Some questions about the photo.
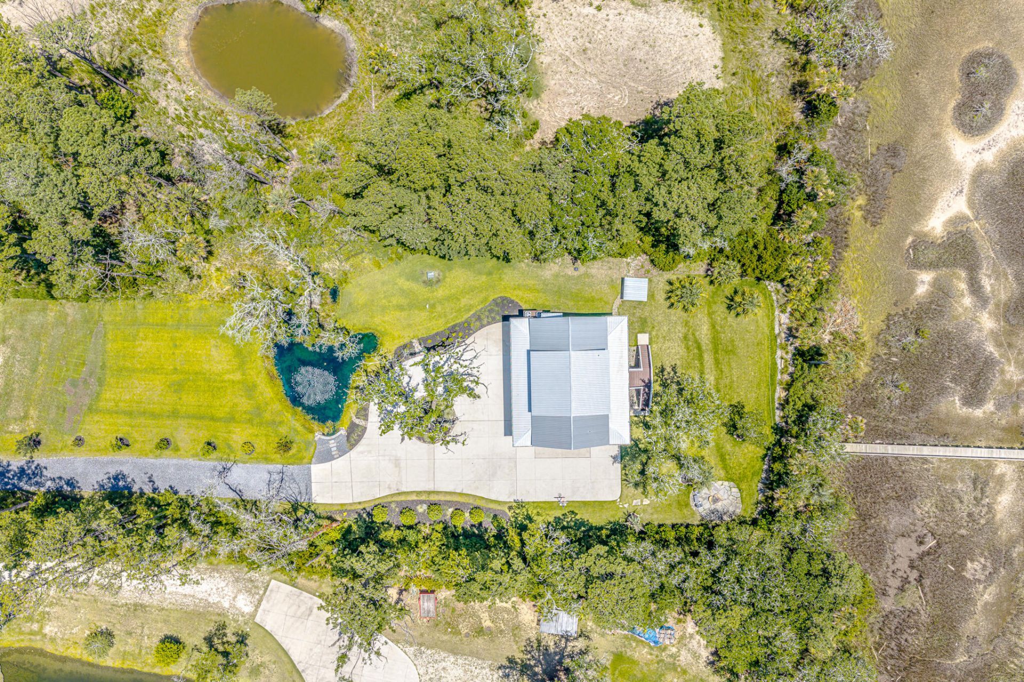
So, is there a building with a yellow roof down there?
No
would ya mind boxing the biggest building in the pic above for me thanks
[509,313,631,450]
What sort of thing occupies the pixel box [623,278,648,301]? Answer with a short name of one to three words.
shed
